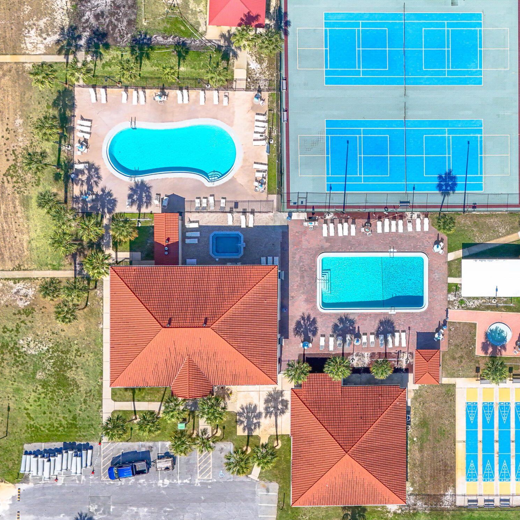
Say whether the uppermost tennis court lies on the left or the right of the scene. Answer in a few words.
right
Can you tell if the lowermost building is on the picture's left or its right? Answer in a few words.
right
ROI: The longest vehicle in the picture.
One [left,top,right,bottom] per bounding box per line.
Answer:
[109,461,150,480]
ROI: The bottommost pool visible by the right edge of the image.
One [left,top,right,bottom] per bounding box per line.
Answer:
[484,320,512,349]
